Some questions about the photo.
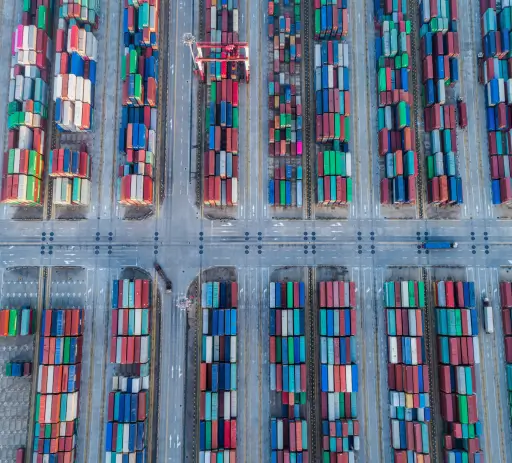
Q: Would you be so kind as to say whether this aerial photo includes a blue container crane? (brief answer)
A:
No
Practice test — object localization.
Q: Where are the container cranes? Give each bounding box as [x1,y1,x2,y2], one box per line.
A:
[197,40,250,82]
